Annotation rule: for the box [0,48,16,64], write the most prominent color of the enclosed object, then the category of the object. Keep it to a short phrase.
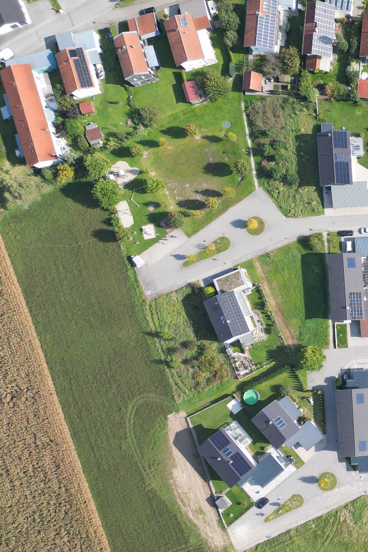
white vehicle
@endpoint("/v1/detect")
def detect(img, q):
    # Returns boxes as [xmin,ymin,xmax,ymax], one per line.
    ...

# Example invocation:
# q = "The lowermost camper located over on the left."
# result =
[133,254,147,268]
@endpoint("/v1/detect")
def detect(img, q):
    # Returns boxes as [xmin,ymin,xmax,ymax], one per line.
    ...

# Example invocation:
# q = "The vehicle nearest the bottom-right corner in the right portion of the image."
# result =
[255,496,271,509]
